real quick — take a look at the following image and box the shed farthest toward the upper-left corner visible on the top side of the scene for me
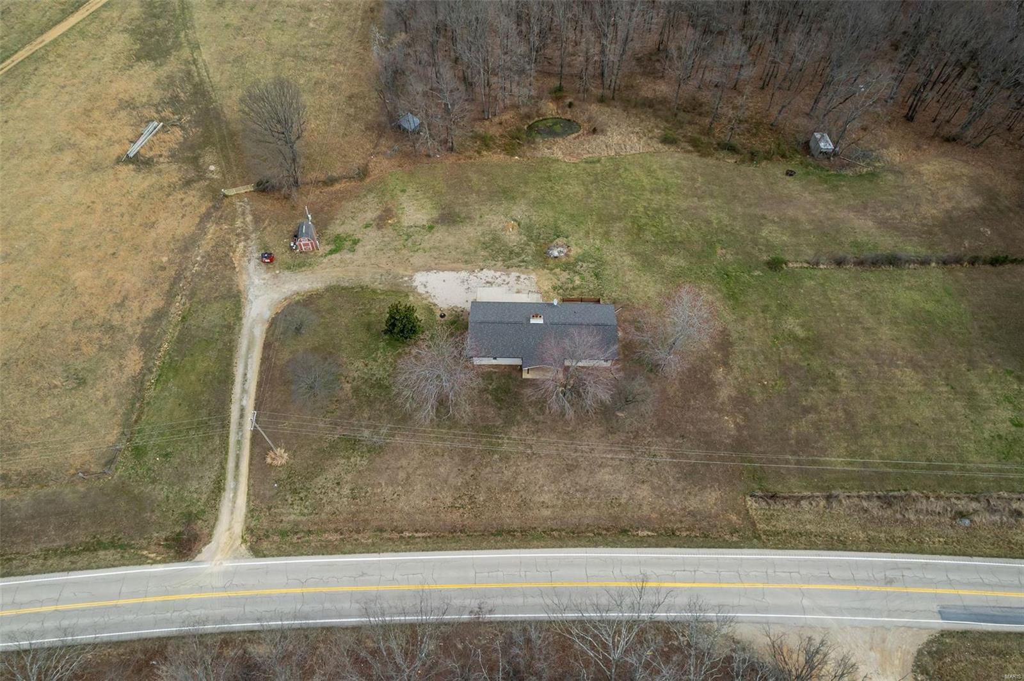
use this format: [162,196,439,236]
[297,219,318,252]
